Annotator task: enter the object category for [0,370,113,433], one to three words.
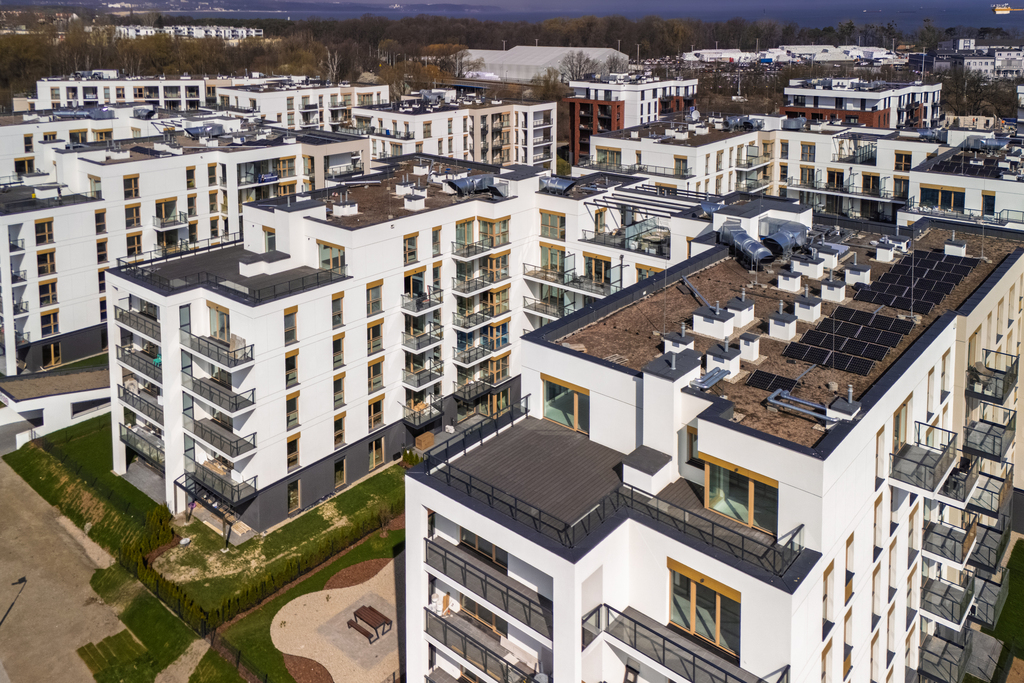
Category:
building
